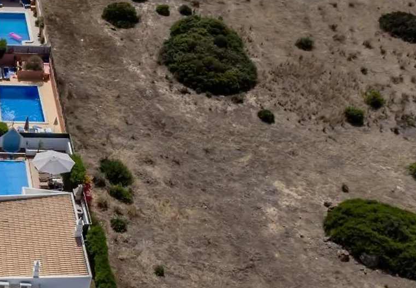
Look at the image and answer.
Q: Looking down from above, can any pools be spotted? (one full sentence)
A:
Yes, a pool appears in the view.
